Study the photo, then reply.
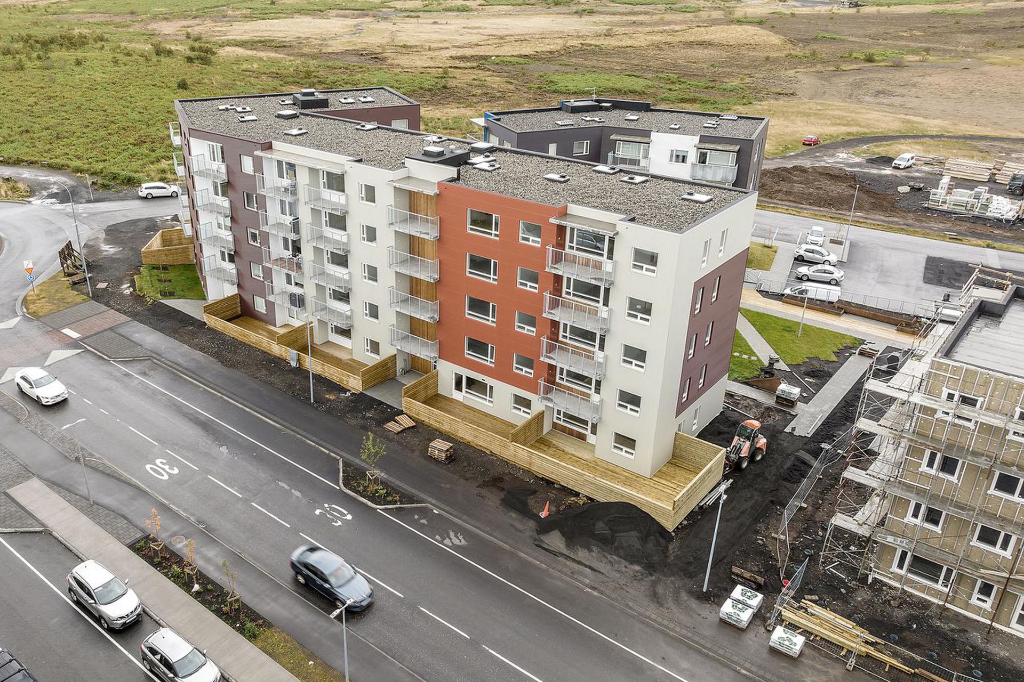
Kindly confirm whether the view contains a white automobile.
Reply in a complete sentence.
Yes, the frame does contain a white automobile.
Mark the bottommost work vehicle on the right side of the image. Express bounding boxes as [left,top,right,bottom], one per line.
[722,425,769,476]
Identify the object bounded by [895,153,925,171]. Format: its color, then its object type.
white vehicle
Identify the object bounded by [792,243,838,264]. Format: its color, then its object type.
white car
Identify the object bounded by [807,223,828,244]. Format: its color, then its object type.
white car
